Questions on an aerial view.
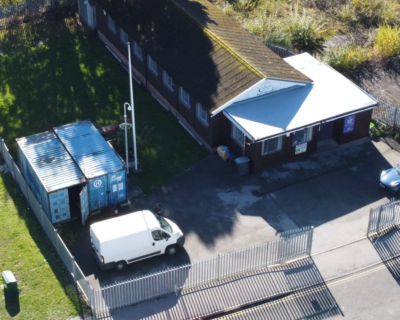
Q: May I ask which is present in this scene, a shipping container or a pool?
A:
shipping container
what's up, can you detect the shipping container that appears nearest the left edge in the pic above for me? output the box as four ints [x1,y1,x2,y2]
[18,129,91,225]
